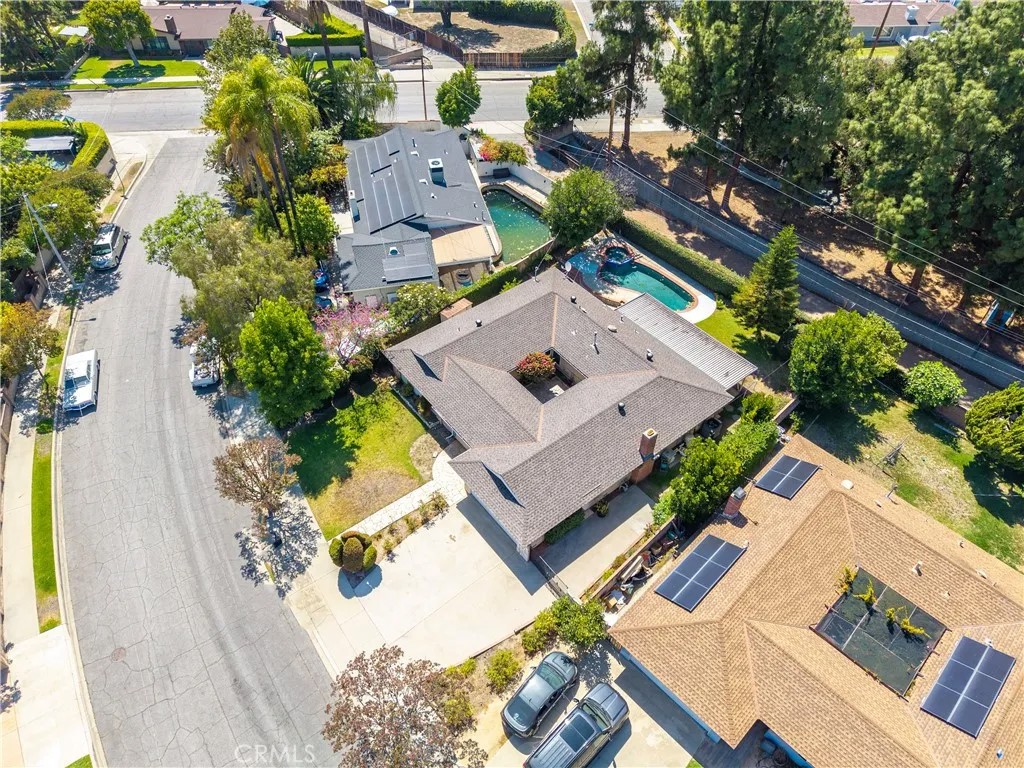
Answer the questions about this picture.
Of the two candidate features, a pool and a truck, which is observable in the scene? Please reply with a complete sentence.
Visible in the photo is a pool.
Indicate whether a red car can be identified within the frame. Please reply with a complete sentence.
No, there appears to be no red car in this shot.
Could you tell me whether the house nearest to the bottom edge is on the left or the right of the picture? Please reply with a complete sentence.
The house nearest to the bottom edge sits on the right side.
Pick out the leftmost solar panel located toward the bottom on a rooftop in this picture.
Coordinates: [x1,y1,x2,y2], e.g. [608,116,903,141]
[655,532,753,610]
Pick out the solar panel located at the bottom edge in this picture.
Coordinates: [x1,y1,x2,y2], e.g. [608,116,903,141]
[923,636,1021,738]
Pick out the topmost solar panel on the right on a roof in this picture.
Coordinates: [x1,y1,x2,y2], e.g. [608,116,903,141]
[755,454,826,498]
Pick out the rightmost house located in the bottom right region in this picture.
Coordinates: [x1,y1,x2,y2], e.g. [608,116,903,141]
[608,433,1024,768]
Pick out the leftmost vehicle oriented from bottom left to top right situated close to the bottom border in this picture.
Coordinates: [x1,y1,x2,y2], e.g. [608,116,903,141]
[503,652,579,742]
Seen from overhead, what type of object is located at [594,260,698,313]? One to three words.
swimming pool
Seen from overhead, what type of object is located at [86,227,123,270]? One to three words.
car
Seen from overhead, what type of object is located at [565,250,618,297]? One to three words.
swimming pool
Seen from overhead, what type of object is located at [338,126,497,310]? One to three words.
house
